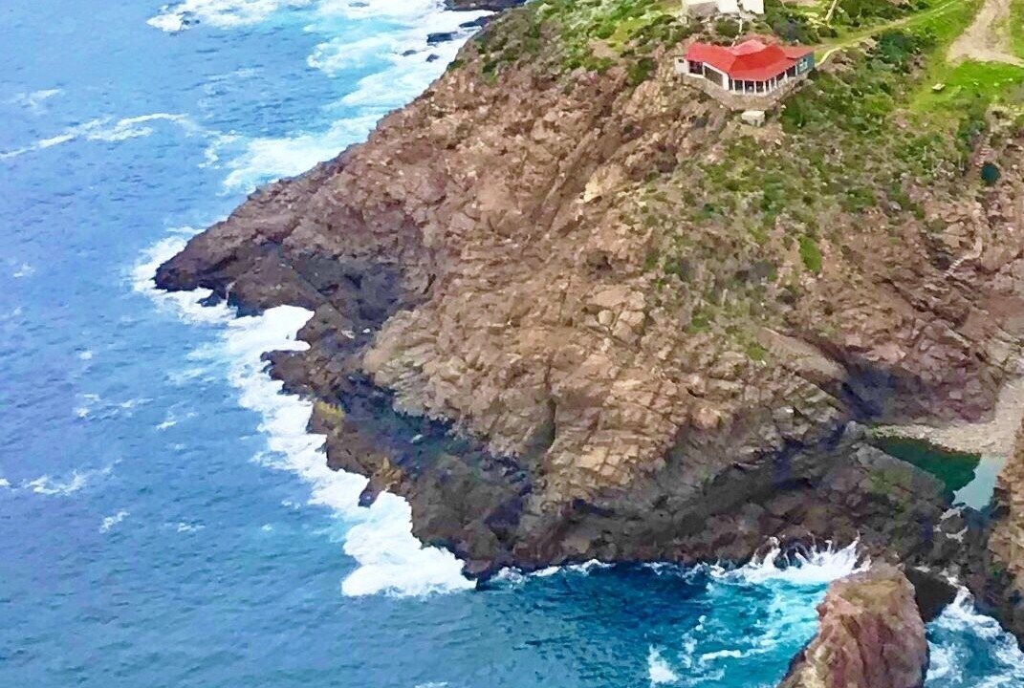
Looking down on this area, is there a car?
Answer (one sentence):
No, the picture doesn't show any car.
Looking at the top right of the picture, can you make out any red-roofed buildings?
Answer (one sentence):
Yes, there is a red-roofed building at the top right of the picture.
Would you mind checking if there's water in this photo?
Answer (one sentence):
Yes, water shows up in the scene.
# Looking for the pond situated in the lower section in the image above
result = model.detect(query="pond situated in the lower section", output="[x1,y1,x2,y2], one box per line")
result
[882,433,1010,511]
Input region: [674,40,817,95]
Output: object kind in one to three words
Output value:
building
